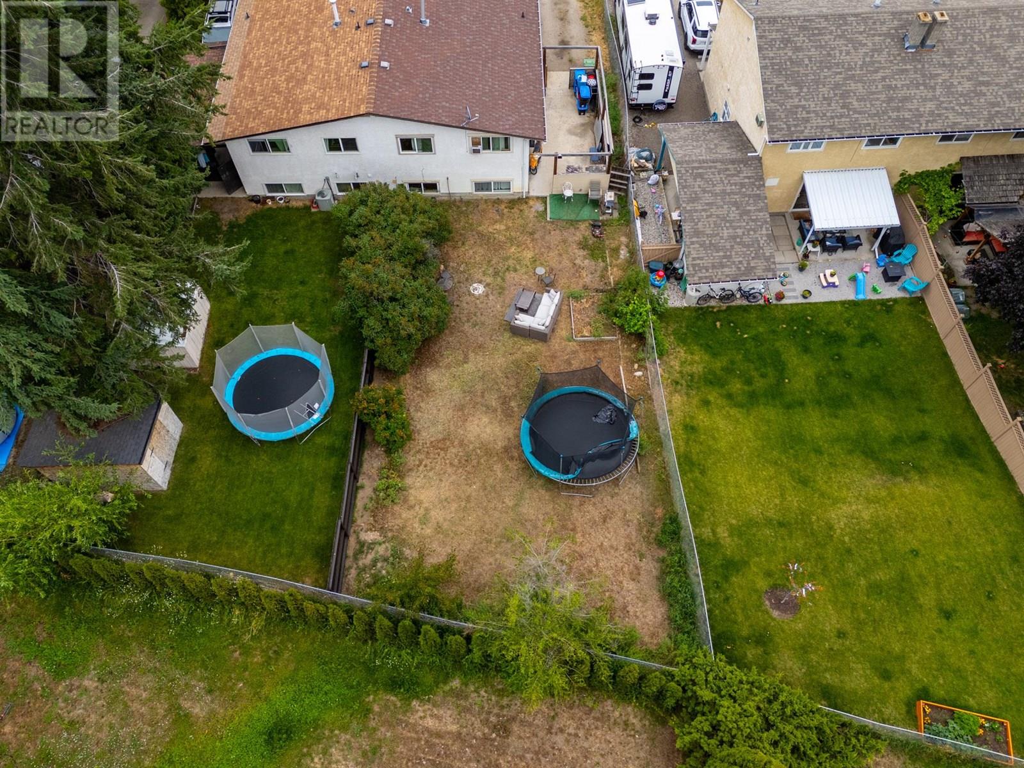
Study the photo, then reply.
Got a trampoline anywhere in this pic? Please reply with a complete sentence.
Yes, I can see a trampoline in this picture.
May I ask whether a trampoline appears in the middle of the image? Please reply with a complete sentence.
Yes, a trampoline appears in the middle of the image.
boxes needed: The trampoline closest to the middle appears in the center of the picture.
[517,358,646,499]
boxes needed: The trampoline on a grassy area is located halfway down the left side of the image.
[204,320,336,449]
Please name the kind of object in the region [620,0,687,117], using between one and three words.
trailer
